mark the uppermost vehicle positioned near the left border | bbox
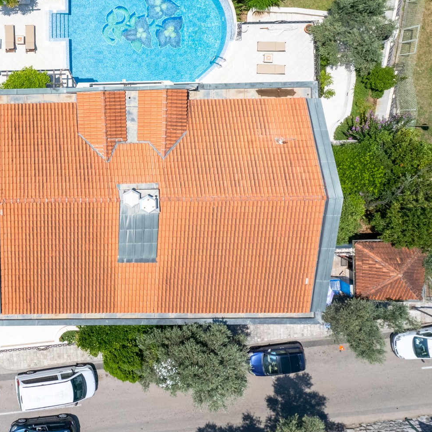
[15,365,95,411]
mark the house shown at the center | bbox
[0,80,342,326]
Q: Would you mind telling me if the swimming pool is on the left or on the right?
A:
left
